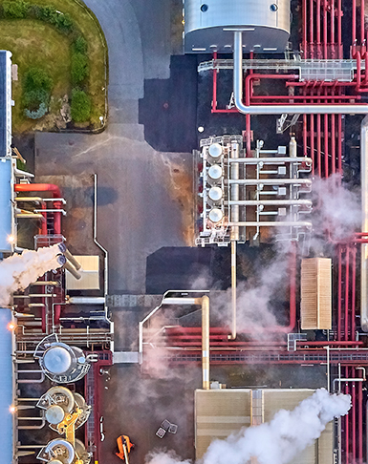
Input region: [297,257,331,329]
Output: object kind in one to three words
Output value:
shed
